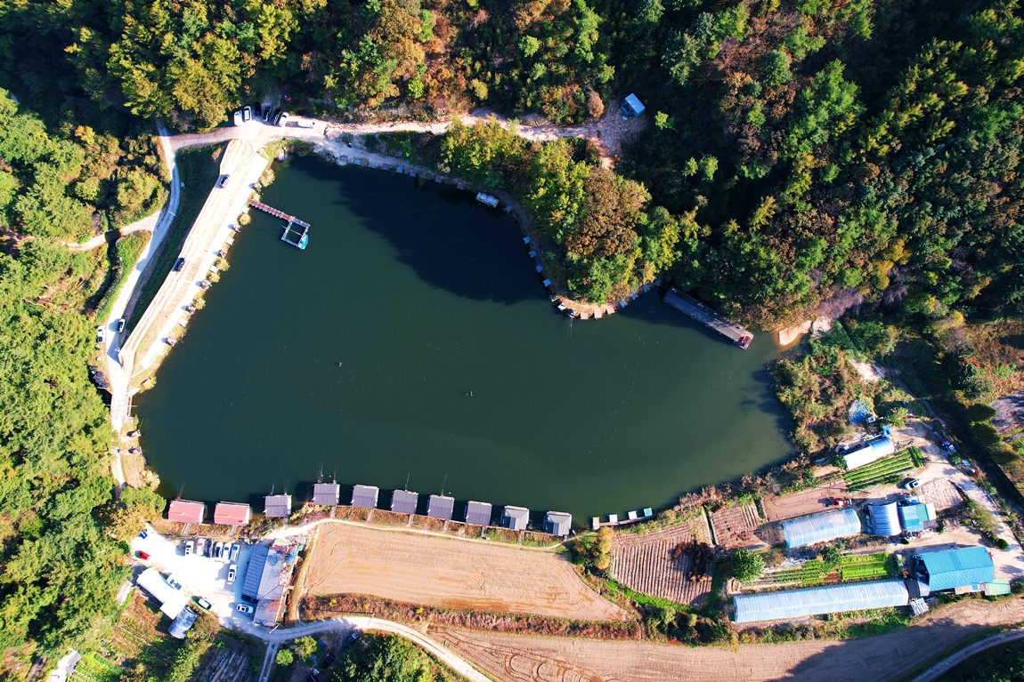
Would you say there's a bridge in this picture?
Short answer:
Yes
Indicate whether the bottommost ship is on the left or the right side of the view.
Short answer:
right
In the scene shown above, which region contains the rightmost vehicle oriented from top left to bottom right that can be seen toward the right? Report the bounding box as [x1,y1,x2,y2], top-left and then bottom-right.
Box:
[943,439,960,457]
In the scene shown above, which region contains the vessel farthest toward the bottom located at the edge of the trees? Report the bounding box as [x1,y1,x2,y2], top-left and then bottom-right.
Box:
[659,285,752,350]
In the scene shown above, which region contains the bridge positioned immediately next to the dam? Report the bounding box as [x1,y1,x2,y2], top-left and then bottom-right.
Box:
[100,386,139,425]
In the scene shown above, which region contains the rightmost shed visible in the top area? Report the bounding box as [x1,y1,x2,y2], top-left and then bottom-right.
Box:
[616,93,645,122]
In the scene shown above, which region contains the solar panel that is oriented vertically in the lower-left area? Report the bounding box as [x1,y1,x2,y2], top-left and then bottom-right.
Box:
[244,551,267,599]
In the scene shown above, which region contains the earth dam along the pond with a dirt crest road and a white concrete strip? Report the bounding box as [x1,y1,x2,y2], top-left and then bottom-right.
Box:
[120,139,267,379]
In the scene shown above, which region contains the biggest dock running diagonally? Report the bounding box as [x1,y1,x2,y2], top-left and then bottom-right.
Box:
[249,198,311,247]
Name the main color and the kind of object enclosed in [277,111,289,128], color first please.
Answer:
white vehicle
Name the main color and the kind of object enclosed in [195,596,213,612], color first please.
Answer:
white car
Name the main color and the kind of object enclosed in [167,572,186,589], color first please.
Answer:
white vehicle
